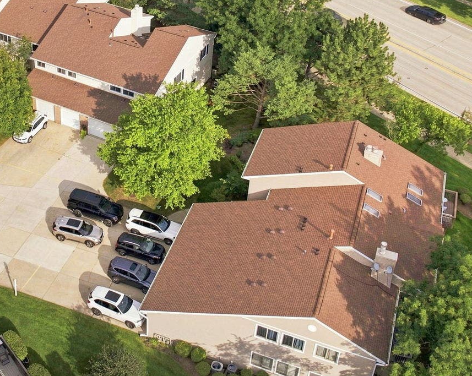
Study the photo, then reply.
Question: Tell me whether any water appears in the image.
No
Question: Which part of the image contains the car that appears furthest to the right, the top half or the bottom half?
top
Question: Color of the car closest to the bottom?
white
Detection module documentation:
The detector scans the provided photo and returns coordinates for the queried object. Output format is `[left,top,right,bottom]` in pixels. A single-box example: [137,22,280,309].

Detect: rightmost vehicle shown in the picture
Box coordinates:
[405,3,446,24]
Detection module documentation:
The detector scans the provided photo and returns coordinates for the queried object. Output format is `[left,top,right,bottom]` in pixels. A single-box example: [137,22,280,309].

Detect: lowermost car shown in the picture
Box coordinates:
[85,285,144,328]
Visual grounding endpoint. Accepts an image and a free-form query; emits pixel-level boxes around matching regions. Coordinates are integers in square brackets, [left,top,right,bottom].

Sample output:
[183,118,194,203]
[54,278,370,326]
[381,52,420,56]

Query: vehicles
[65,188,127,226]
[85,285,144,328]
[405,3,446,24]
[49,215,105,248]
[111,228,168,264]
[103,255,158,294]
[13,113,50,145]
[125,207,181,245]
